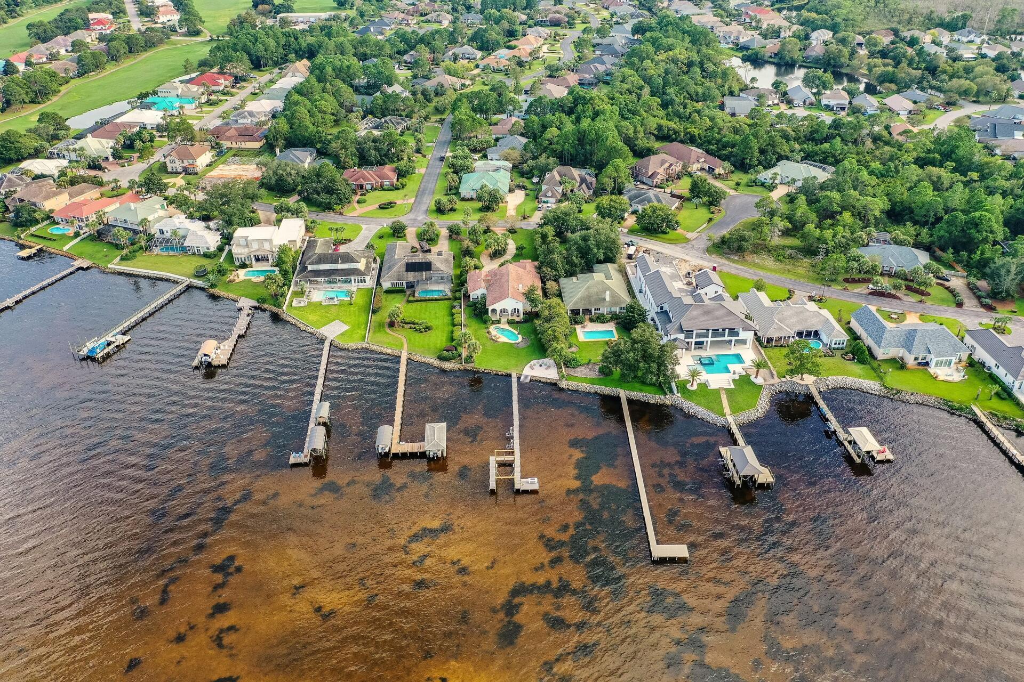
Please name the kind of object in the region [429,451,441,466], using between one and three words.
boat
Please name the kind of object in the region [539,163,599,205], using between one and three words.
house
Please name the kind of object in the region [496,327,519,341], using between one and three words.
swimming pool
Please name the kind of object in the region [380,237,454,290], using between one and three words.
house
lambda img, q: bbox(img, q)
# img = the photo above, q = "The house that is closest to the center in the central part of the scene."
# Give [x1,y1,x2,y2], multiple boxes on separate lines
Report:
[460,259,542,320]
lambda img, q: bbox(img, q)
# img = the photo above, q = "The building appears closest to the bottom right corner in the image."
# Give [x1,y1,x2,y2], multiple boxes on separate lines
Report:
[843,426,881,472]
